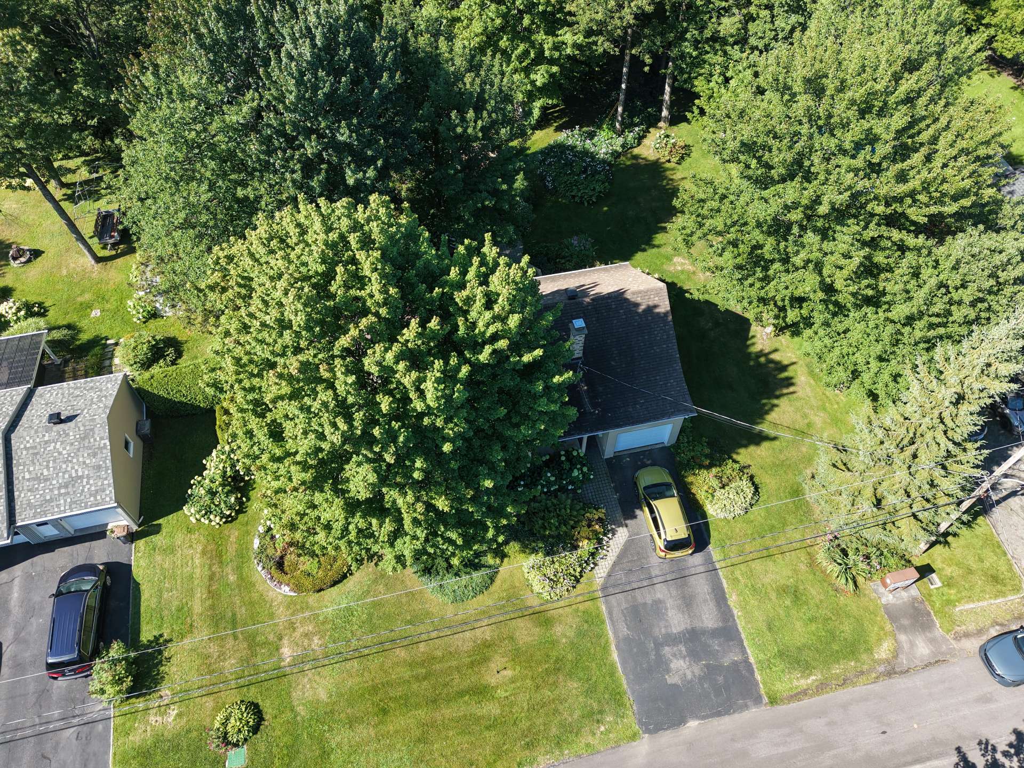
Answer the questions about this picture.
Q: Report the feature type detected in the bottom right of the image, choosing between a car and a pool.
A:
car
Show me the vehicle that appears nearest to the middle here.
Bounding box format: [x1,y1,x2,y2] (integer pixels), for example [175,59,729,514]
[633,467,696,561]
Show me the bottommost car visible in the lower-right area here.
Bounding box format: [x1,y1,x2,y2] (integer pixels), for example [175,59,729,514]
[976,617,1024,685]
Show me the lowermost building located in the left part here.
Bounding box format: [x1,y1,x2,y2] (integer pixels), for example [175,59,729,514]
[0,368,150,563]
